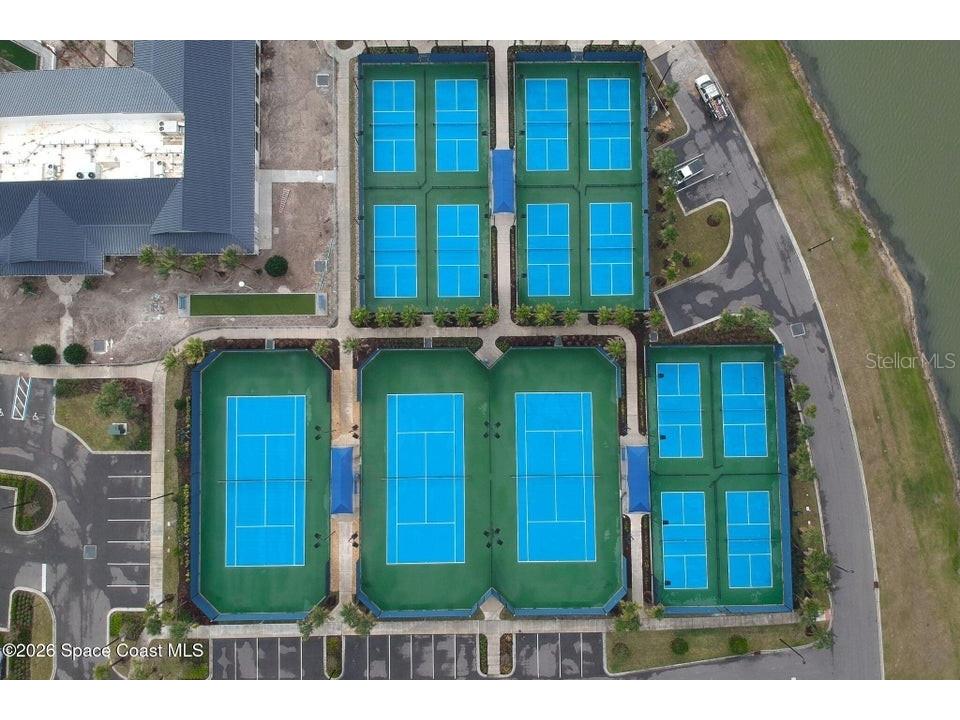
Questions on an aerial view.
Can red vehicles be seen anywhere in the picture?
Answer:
No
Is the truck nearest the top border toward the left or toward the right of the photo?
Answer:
right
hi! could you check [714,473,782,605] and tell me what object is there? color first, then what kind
blue sports court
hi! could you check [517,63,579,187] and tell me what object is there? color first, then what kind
blue sports court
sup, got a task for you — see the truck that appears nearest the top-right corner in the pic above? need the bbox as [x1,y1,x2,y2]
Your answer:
[698,78,733,121]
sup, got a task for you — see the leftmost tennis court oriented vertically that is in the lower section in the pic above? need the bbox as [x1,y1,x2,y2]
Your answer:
[201,352,331,612]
